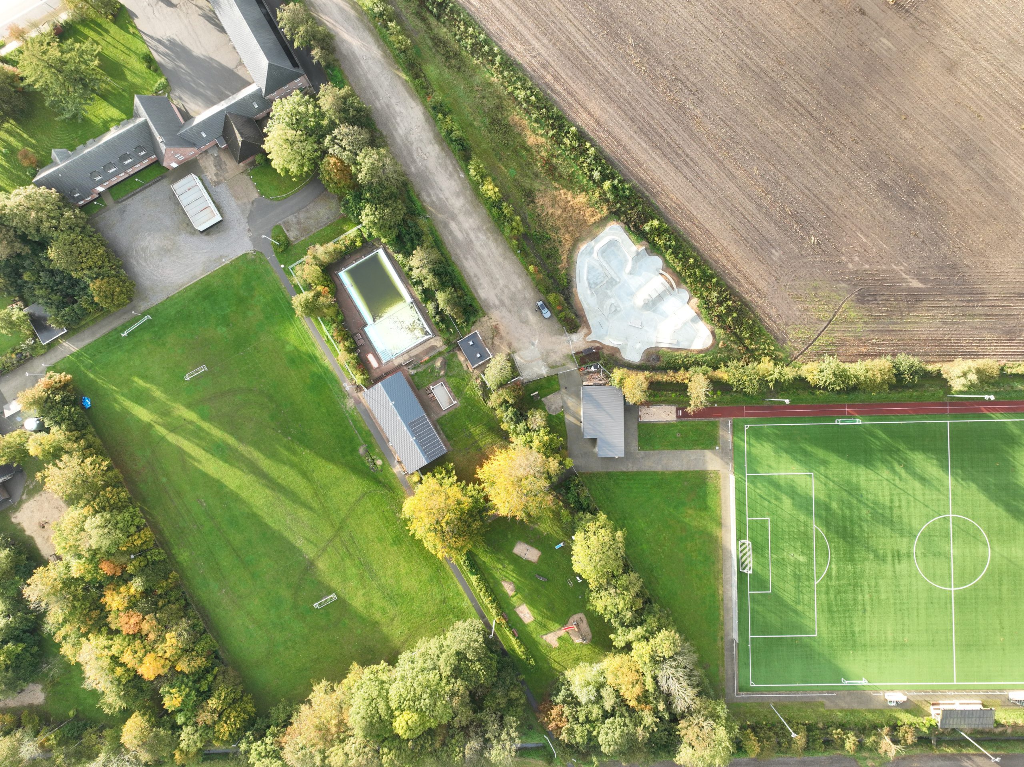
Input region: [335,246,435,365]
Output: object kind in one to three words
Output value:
swimming pool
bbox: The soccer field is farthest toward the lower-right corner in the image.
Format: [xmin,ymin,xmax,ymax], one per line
[733,413,1024,697]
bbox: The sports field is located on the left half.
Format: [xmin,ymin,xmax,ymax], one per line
[68,255,474,695]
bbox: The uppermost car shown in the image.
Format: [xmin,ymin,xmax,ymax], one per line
[536,299,550,318]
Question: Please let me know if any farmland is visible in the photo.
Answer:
Yes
